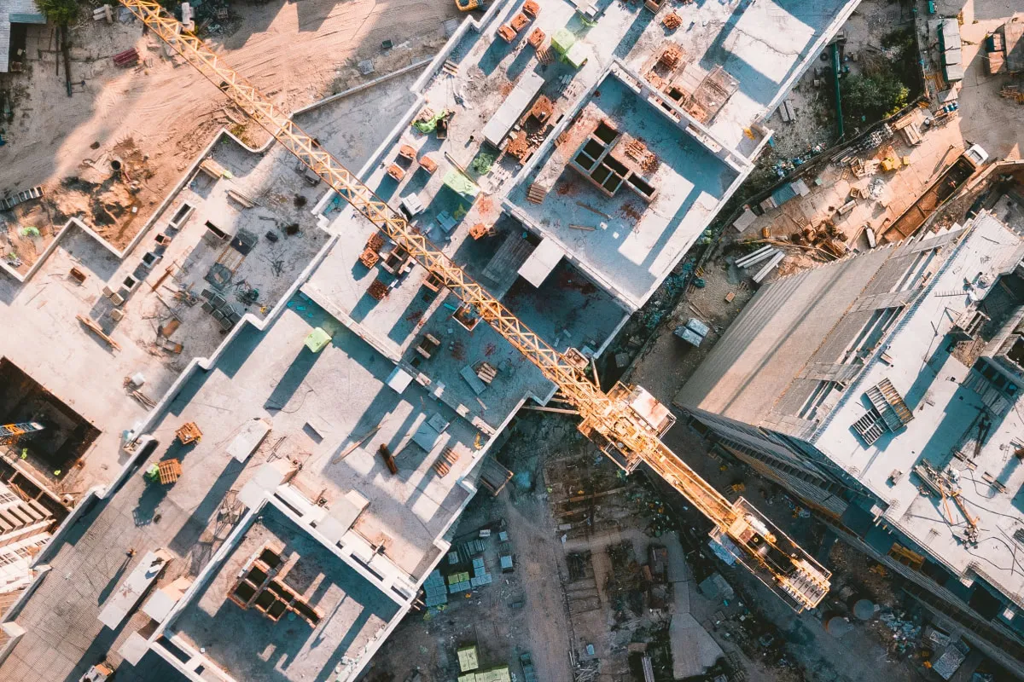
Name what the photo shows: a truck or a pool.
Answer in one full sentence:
The one in the frame is a truck.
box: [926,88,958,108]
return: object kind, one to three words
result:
shed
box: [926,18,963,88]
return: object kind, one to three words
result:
shed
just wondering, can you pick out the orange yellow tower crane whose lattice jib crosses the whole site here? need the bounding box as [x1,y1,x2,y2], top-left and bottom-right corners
[115,0,849,619]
